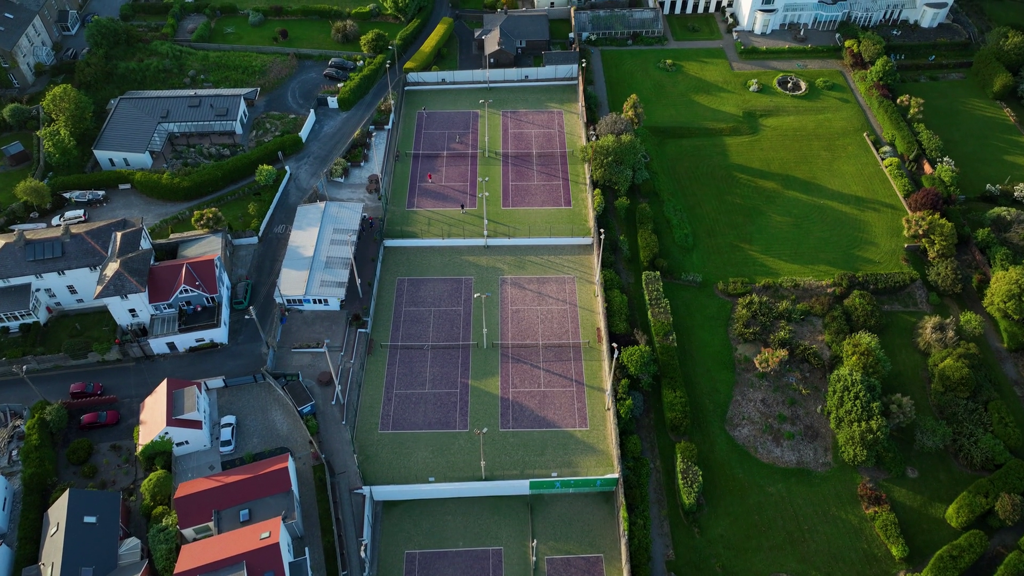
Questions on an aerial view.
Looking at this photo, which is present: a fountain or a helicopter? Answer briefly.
fountain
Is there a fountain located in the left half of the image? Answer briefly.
No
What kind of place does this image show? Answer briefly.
residential area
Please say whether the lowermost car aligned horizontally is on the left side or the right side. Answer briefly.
left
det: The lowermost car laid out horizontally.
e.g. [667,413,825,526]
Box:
[77,409,117,429]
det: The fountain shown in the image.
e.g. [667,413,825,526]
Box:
[774,71,808,96]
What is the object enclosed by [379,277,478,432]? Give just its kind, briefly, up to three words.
tennis court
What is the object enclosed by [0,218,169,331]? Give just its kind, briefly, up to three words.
house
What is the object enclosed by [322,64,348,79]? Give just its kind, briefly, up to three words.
car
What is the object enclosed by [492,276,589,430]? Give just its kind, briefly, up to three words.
tennis court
